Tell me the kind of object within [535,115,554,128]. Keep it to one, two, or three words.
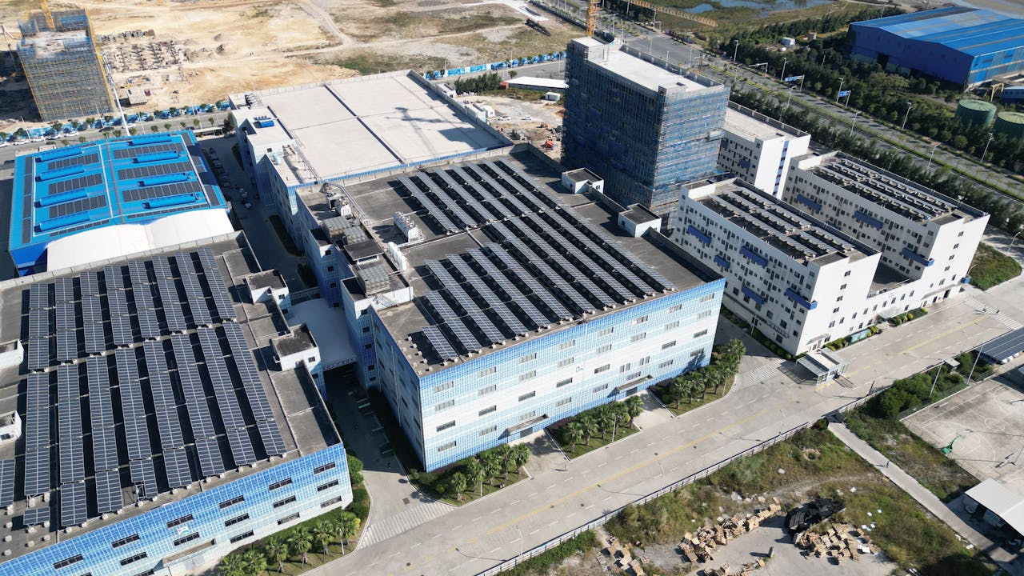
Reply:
vehicle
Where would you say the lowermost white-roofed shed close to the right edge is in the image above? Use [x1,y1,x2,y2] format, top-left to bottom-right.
[963,475,1024,531]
